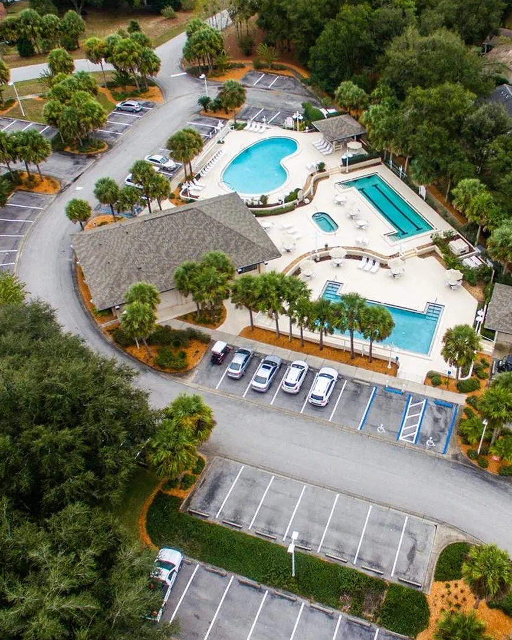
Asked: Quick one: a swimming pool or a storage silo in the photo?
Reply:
swimming pool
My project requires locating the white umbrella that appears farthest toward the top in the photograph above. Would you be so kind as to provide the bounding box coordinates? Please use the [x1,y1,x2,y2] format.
[345,139,364,151]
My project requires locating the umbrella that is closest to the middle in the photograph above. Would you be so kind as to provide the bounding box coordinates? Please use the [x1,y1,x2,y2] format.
[296,260,320,275]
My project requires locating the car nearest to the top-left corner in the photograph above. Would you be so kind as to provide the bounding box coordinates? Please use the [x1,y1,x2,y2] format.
[116,98,143,113]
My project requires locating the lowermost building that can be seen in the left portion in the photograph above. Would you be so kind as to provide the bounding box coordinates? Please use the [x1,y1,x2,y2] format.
[66,191,281,328]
